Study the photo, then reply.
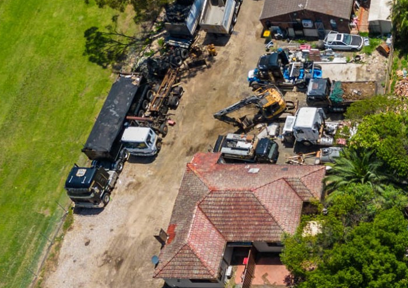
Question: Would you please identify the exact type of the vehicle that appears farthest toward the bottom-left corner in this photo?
truck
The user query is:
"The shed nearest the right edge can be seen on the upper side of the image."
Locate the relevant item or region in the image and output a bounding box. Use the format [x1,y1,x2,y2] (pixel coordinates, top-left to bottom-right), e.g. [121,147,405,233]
[363,0,394,38]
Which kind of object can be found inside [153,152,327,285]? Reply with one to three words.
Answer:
house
